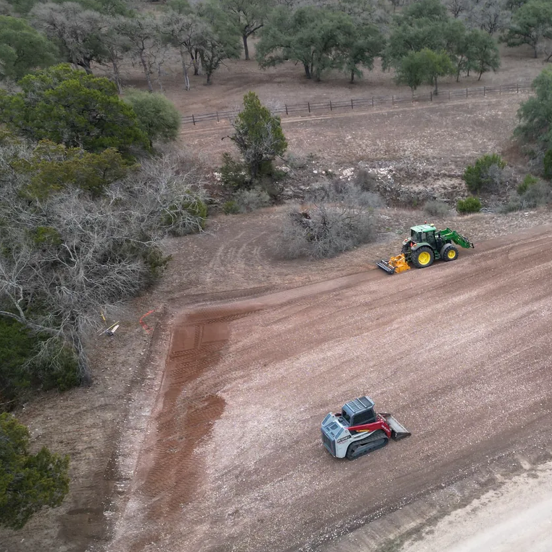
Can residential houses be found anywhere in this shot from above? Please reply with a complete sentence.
No, the frame has no residential house in it.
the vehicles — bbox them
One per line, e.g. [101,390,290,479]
[399,222,470,269]
[318,393,409,460]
